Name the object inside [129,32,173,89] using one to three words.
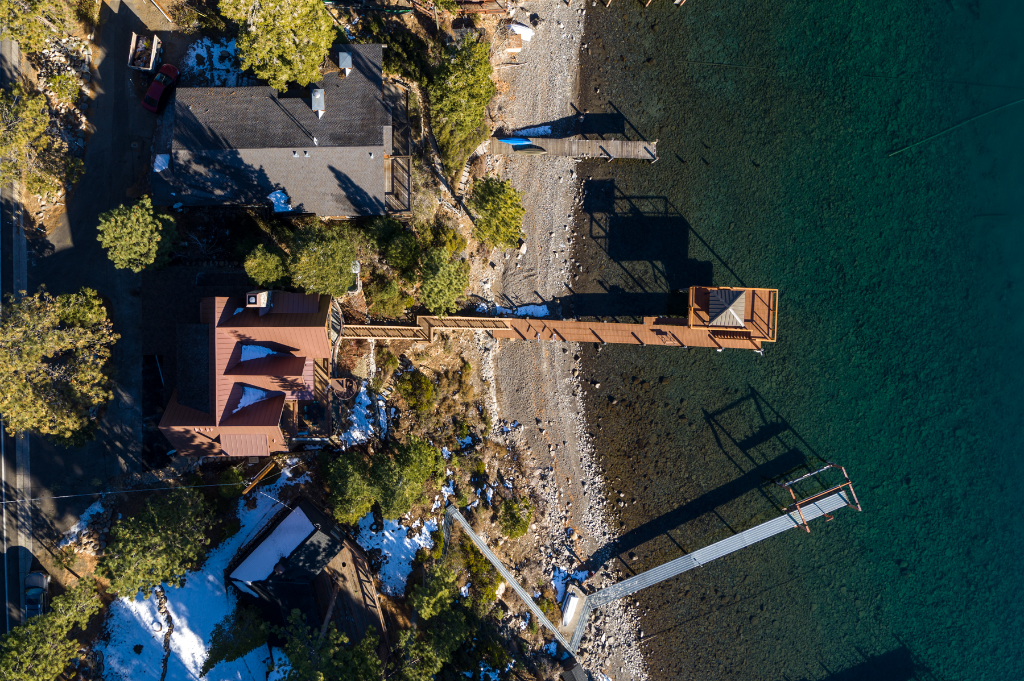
trailer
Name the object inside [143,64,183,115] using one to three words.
car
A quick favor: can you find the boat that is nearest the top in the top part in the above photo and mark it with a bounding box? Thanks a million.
[509,21,534,43]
